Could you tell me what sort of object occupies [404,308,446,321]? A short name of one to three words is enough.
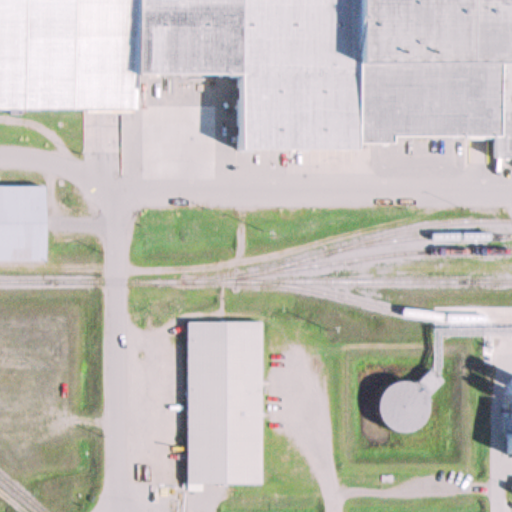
rail car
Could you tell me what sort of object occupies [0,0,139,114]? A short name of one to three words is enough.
warehouse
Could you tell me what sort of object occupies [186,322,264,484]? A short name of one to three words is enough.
shed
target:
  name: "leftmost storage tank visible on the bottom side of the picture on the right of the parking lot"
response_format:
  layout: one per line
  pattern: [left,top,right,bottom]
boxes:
[376,381,430,433]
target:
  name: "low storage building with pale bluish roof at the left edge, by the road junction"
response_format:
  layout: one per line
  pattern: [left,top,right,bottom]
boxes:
[0,185,47,262]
